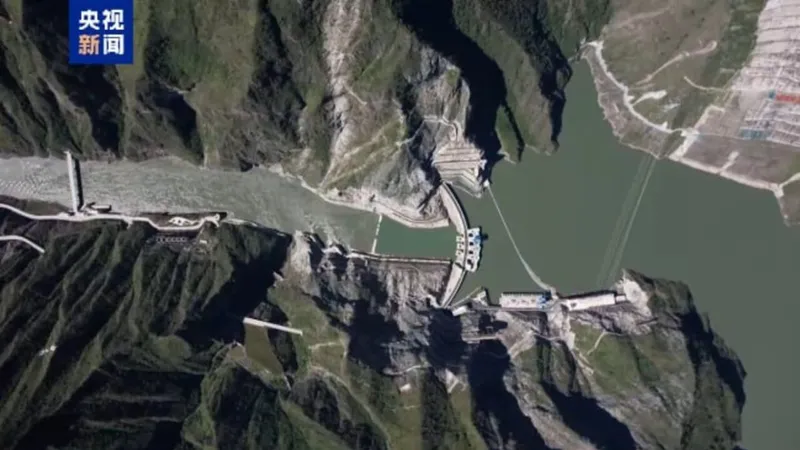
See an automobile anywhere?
No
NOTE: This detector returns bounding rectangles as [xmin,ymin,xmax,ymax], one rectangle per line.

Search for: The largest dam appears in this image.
[437,175,482,311]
